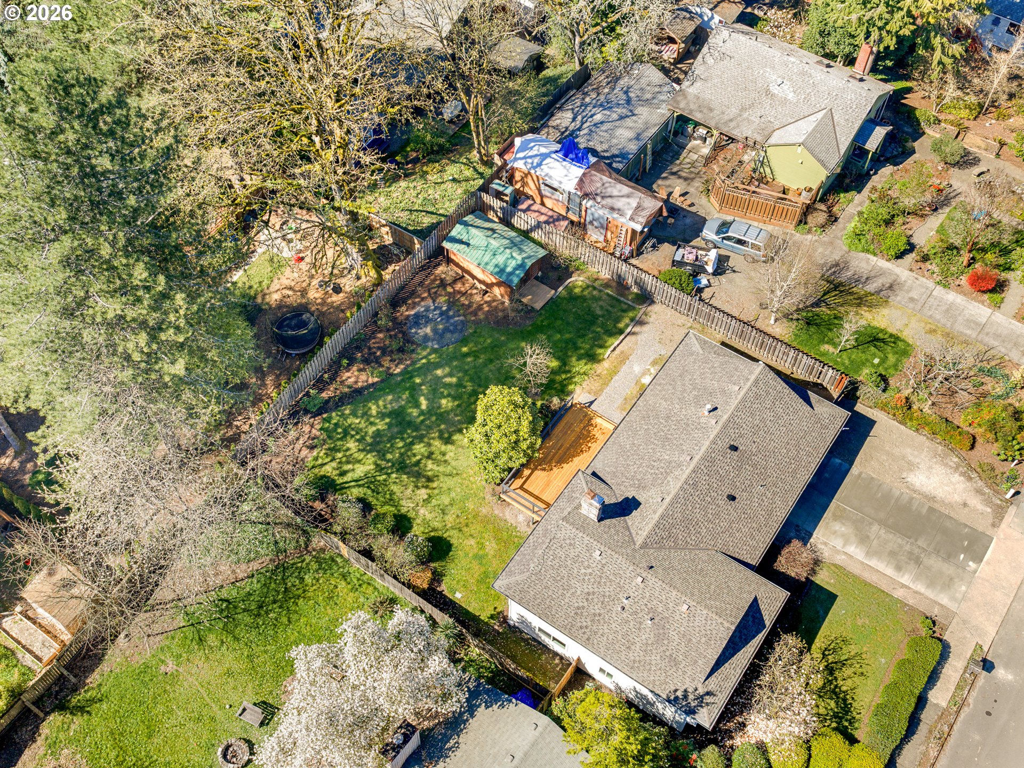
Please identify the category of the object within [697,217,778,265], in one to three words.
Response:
car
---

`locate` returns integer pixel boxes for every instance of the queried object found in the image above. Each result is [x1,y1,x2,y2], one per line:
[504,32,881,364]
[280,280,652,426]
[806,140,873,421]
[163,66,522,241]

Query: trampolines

[261,297,327,362]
